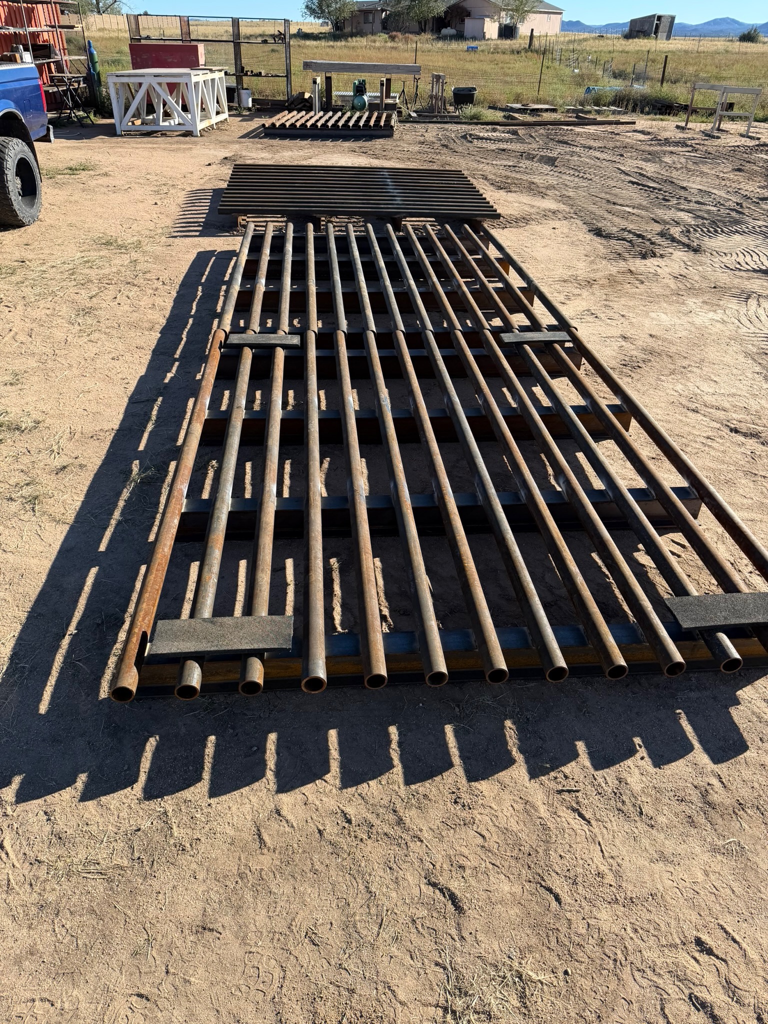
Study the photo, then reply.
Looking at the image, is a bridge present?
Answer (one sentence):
No, I can't see a single bridge in this photo.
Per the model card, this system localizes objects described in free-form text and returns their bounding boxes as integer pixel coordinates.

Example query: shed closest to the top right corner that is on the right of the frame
[629,13,677,39]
